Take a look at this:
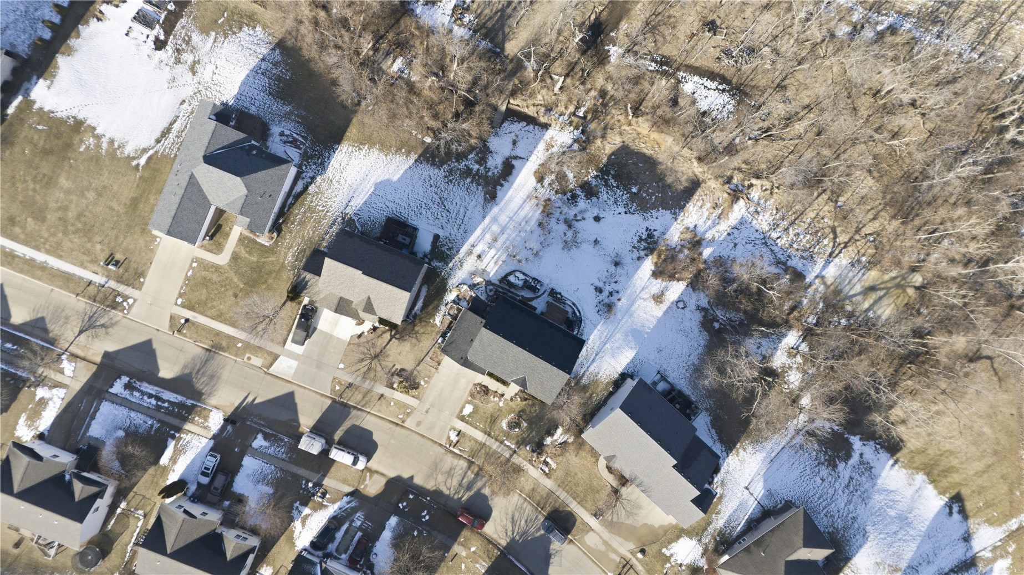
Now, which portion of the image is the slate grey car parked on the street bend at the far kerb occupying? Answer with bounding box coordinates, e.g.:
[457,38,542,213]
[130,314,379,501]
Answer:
[538,519,572,550]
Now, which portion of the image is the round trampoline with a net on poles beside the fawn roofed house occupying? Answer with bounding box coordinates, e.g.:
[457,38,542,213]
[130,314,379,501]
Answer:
[66,538,105,572]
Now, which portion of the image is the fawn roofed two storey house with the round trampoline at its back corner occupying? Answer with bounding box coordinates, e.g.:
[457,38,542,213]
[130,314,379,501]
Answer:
[0,430,125,551]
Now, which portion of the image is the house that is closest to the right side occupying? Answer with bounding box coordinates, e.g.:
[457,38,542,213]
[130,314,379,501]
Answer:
[714,504,835,575]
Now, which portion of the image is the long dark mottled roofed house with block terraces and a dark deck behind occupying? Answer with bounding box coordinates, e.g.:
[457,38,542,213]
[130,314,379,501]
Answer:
[440,294,586,405]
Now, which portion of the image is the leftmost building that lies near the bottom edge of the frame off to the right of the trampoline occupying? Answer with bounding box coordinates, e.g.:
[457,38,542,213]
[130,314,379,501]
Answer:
[135,494,266,575]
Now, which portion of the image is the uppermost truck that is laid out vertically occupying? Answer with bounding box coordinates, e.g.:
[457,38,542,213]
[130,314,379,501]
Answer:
[289,303,314,347]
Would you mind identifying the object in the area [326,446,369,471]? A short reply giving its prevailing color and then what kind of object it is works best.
white car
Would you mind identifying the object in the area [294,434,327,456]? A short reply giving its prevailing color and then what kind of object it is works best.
white camper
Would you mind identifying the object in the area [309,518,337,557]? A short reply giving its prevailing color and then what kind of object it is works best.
black car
